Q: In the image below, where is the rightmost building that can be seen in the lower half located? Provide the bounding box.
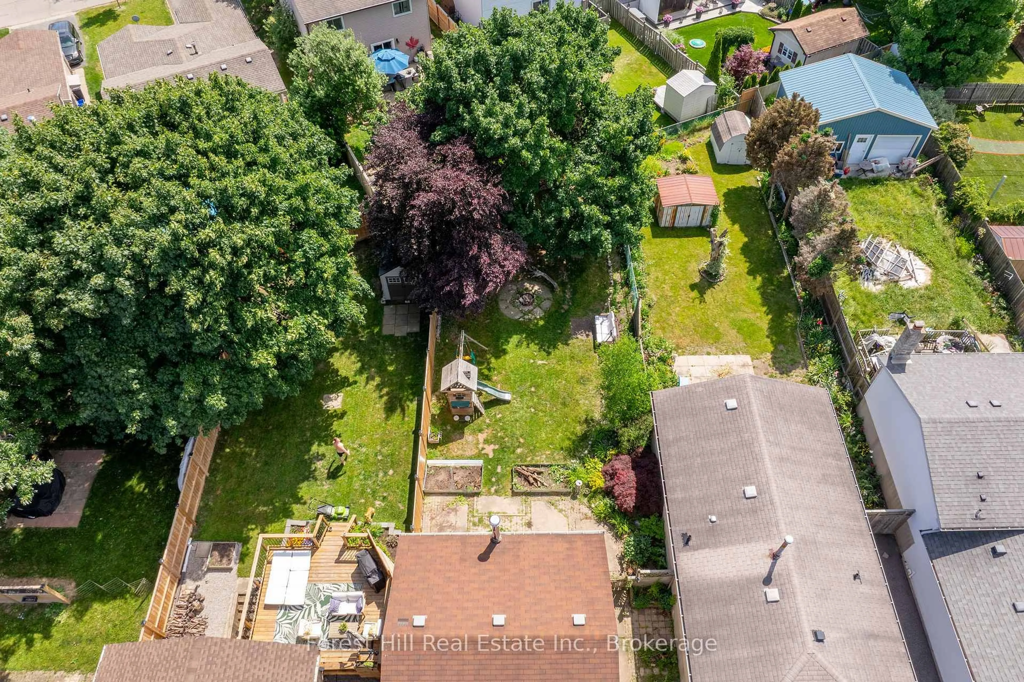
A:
[858,314,1024,682]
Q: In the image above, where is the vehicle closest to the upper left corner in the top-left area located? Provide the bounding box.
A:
[42,16,84,58]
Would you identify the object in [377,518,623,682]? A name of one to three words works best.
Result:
house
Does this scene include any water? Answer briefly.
No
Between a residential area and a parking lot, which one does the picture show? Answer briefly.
residential area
